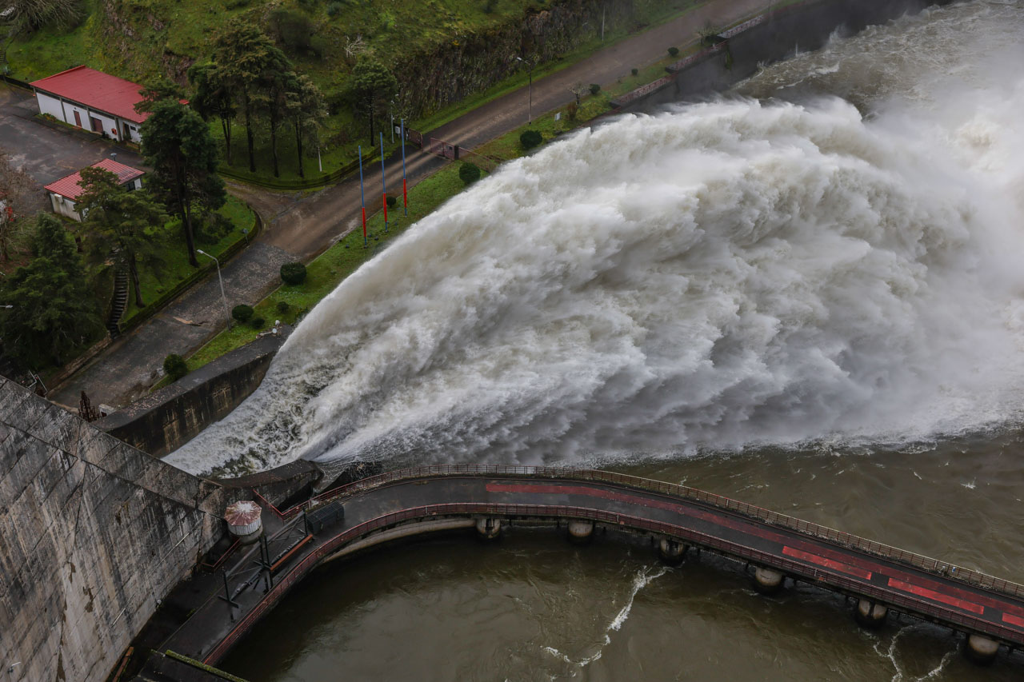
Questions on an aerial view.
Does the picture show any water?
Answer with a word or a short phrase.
Yes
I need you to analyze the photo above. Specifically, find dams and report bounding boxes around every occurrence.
[0,373,231,682]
